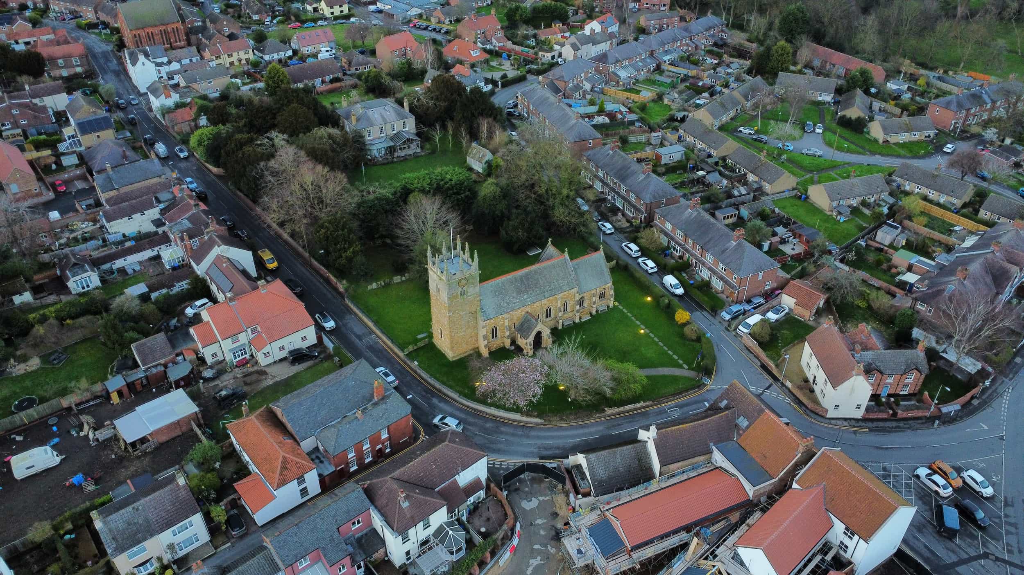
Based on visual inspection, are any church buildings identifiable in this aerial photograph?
Yes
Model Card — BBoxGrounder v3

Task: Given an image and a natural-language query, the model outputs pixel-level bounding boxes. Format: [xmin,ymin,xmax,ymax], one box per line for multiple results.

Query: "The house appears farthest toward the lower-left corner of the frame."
[89,467,209,575]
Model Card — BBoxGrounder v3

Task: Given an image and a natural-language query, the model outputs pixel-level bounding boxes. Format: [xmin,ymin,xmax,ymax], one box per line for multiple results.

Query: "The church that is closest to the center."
[423,221,614,360]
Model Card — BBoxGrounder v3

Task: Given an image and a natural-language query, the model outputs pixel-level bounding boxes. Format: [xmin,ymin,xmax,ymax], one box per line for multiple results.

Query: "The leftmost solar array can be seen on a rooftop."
[76,114,113,134]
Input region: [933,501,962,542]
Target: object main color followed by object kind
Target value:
blue car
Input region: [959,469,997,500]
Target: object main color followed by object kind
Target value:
white car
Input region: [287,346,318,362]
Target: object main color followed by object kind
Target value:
black car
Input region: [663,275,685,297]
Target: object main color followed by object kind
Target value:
white car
